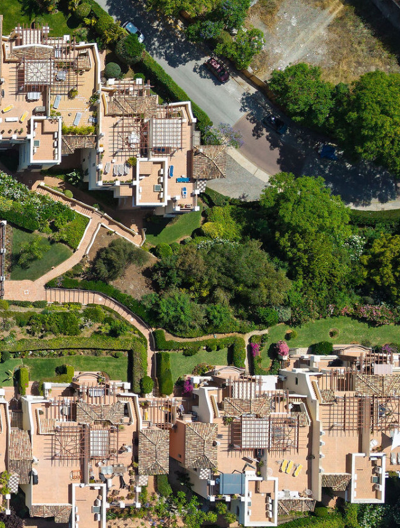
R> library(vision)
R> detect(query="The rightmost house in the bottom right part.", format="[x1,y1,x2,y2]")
[266,344,400,503]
